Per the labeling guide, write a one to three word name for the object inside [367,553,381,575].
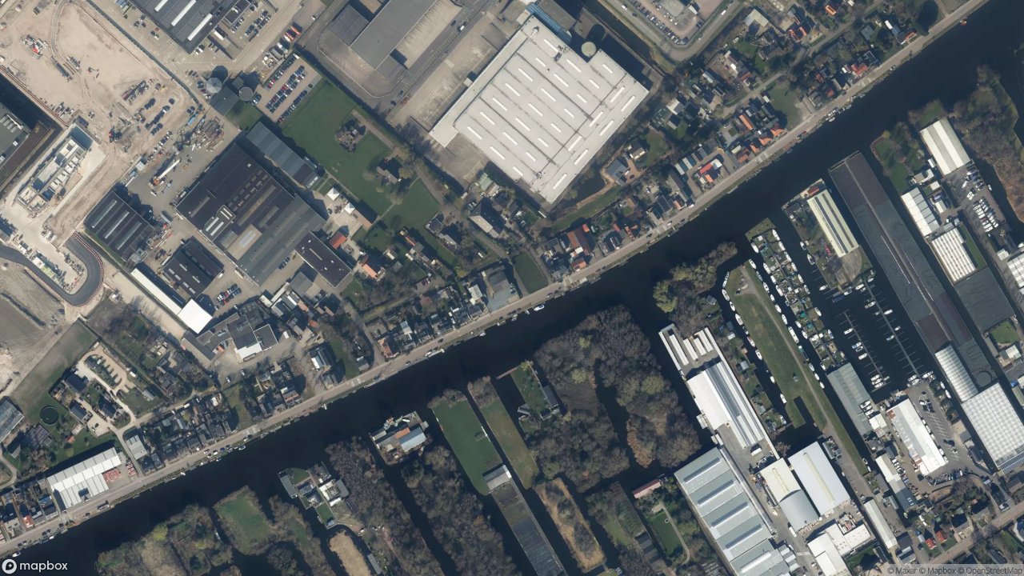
boat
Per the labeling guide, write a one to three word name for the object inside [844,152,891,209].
house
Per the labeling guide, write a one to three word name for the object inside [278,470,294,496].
boat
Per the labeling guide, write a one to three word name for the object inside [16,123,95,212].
building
